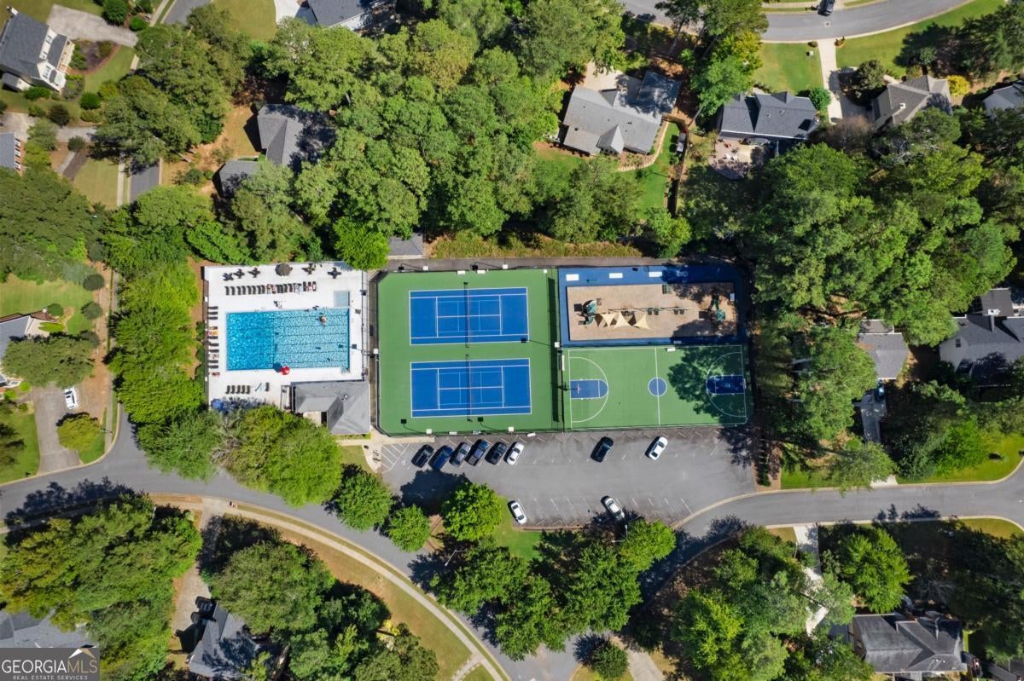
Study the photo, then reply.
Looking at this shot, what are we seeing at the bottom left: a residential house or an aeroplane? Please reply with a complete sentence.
What appears at the bottom left is a residential house.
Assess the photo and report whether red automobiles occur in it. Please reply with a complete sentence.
No, no red automobile can be seen from above.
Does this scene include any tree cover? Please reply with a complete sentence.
Yes, some tree cover is visible.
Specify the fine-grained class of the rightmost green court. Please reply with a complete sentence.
The rightmost green court appears to be a basketball court.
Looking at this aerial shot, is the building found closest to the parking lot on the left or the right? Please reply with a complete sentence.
The building found closest to the parking lot is on the left side of the image.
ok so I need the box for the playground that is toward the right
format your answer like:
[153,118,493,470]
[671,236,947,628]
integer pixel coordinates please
[559,263,755,347]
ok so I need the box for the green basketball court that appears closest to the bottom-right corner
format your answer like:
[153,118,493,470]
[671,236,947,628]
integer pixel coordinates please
[562,342,753,431]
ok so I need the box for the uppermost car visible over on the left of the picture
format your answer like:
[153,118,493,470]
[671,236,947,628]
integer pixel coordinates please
[62,385,80,412]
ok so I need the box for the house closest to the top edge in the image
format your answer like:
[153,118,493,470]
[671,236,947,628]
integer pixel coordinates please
[309,0,366,31]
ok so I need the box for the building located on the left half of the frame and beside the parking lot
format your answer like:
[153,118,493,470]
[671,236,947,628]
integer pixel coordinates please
[290,380,371,435]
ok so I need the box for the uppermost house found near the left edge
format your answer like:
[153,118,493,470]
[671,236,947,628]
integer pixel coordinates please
[0,4,76,92]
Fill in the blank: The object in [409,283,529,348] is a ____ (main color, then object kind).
blue tennis court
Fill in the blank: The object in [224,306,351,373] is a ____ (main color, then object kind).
blue swimming pool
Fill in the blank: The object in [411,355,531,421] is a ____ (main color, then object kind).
blue tennis court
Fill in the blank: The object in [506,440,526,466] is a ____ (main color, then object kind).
white car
